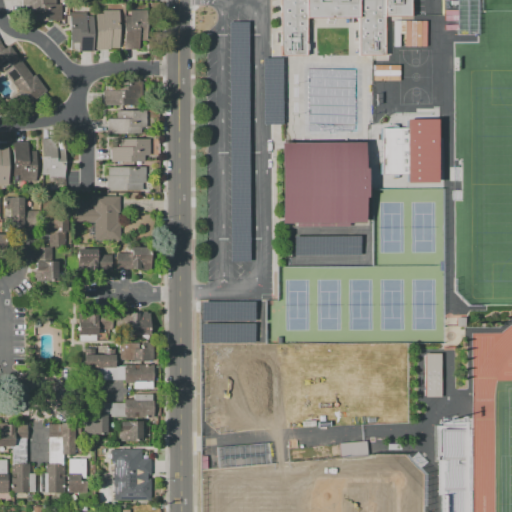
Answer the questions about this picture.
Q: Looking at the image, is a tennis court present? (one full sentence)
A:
Yes, looking at the shot, I can spot a tennis court.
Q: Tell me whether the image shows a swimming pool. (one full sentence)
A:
Yes, the photo shows a swimming pool.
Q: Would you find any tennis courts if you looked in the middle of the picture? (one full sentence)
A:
Yes, a tennis court shows up in the middle of the picture.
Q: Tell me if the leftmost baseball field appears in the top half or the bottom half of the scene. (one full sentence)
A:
Seen from above, the leftmost baseball field lies in the bottom half of the view.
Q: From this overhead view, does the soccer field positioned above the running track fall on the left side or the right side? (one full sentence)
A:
The soccer field positioned above the running track appears in the right half of the scene.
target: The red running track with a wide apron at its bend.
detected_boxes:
[473,326,512,512]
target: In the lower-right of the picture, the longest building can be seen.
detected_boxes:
[424,353,444,398]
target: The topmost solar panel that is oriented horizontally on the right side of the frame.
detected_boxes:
[296,236,363,255]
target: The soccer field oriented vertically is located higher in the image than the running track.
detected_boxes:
[456,0,512,304]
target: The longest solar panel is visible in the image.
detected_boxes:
[230,20,251,261]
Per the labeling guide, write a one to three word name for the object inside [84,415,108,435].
house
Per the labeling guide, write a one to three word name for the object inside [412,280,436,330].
tennis court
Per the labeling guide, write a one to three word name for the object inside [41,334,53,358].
swimming pool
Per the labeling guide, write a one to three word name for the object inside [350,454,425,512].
baseball field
